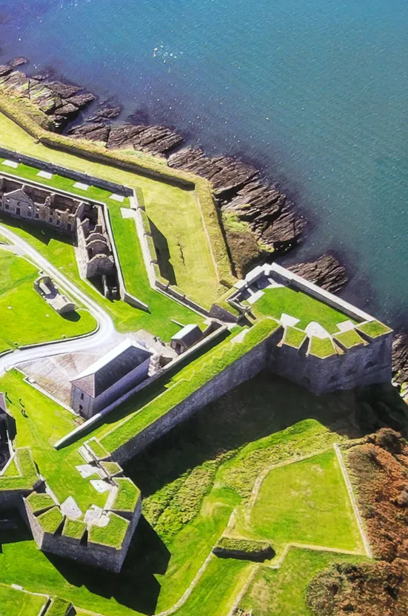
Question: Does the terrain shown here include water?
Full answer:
Yes, there is water in the image.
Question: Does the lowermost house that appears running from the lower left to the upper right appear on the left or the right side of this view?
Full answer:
The lowermost house that appears running from the lower left to the upper right appears in the left half of the scene.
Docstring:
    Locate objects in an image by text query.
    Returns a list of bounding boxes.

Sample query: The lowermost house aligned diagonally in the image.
[69,339,154,418]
